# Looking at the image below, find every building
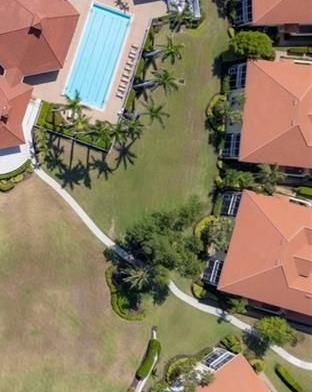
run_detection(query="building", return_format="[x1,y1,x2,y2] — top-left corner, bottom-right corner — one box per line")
[225,51,312,176]
[205,187,312,322]
[238,0,312,36]
[0,0,80,149]
[171,350,275,392]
